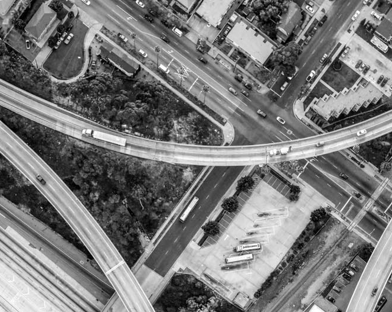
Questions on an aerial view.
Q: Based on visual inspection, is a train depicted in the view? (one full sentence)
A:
No, I can see no train in this picture.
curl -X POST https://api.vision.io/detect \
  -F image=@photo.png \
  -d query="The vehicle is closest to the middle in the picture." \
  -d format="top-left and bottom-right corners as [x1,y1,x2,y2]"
[180,194,201,221]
